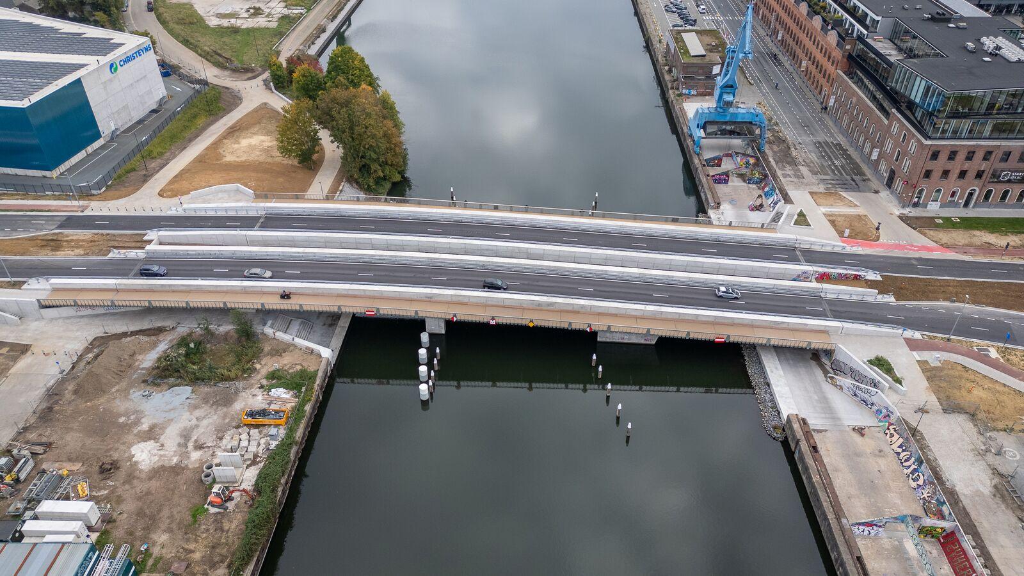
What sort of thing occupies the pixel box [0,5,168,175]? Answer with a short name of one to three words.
building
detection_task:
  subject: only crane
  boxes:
[688,0,771,155]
